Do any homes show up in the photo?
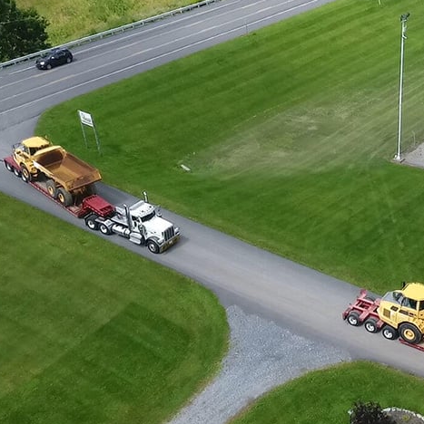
No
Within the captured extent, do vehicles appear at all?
Yes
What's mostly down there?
grass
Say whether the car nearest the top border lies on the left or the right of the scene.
left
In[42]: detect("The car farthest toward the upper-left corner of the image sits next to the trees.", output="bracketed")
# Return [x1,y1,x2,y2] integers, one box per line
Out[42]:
[34,46,73,68]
